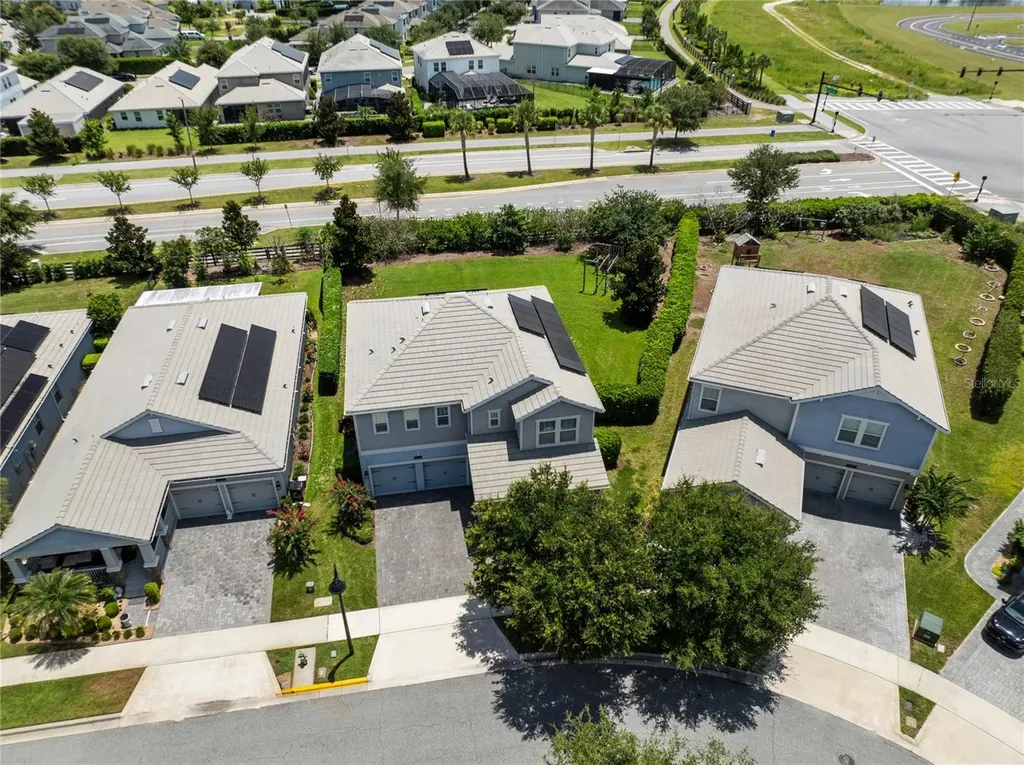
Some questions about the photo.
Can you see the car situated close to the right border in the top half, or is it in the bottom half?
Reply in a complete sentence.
The car situated close to the right border sits in the bottom half of the picture.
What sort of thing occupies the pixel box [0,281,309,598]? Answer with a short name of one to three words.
house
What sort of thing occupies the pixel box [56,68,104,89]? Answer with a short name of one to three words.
solar panel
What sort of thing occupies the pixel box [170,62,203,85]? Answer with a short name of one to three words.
solar panel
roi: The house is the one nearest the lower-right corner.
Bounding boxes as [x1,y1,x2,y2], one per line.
[660,264,952,540]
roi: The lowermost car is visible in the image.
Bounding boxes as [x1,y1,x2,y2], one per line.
[989,579,1024,654]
